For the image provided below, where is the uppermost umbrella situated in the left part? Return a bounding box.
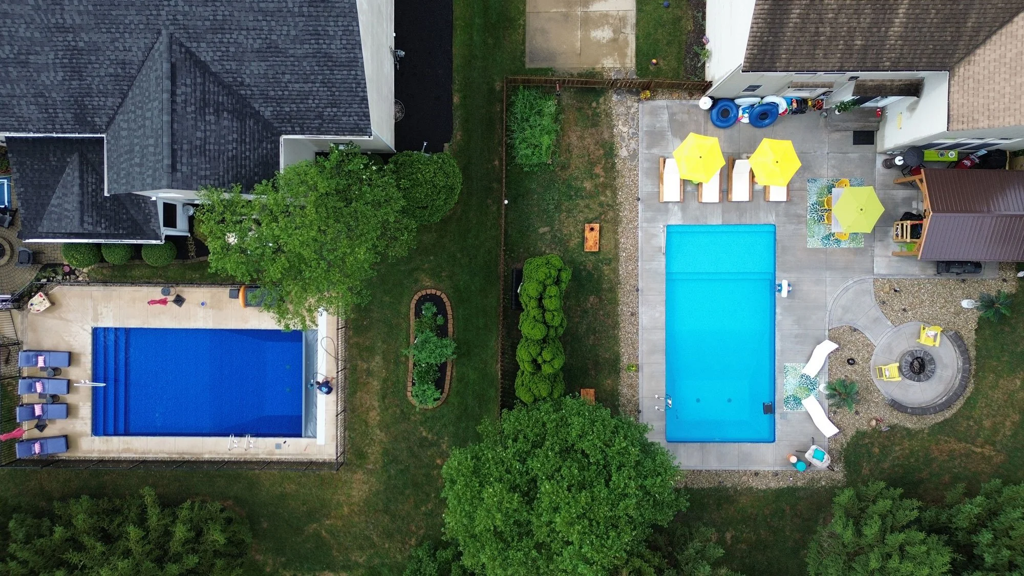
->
[148,294,185,307]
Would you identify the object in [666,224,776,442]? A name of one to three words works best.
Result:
swimming pool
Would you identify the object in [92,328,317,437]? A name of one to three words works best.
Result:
swimming pool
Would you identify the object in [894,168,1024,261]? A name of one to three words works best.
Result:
building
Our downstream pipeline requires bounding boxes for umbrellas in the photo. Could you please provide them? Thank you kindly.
[148,294,185,307]
[0,423,49,440]
[747,139,800,186]
[826,187,883,233]
[671,134,724,185]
